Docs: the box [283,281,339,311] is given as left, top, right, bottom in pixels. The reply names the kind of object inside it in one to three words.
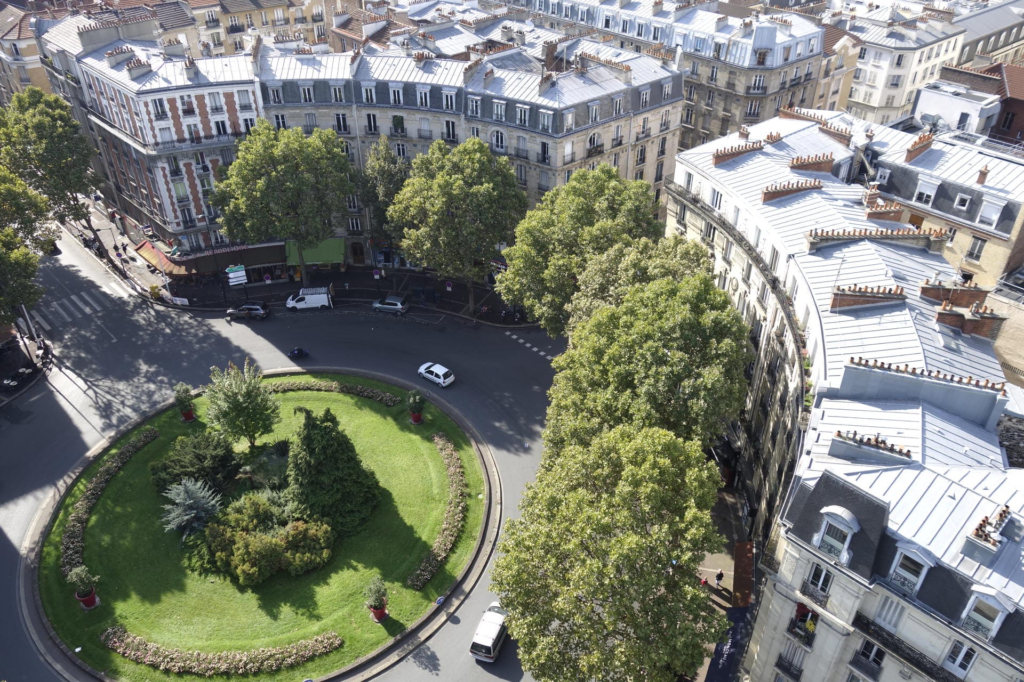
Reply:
vehicle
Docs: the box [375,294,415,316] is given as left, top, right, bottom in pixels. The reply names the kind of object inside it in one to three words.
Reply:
car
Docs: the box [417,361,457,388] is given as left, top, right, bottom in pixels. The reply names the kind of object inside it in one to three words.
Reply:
car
